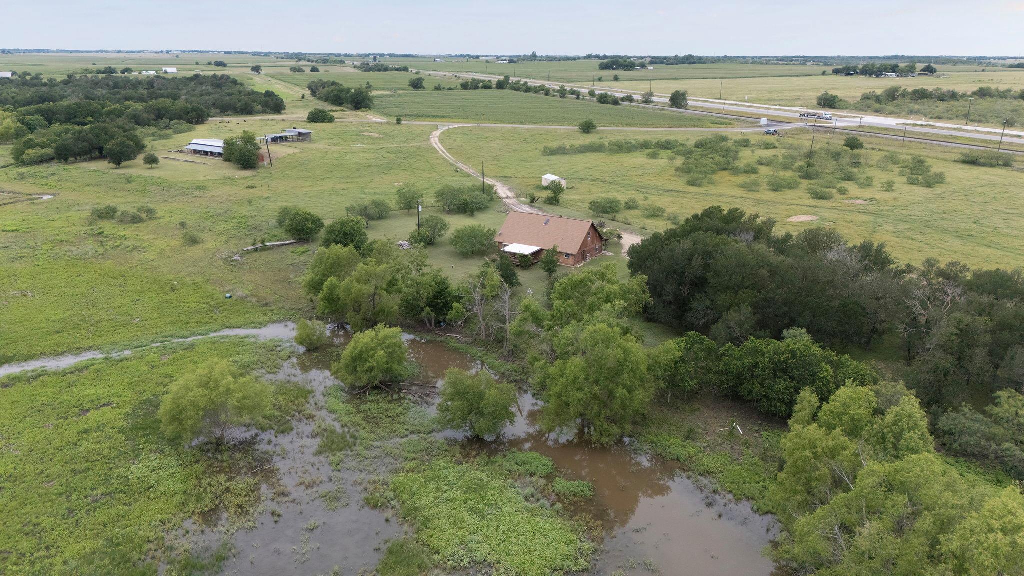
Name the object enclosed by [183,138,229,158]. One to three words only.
house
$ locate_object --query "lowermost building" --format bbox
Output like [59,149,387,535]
[496,210,611,267]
